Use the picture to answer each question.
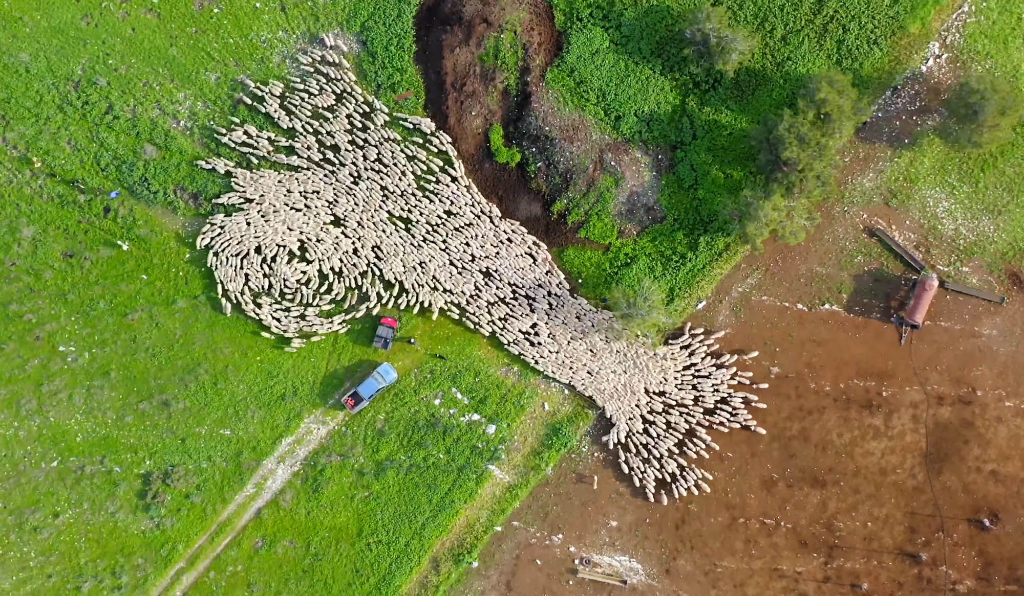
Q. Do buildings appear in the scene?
No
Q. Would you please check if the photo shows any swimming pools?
No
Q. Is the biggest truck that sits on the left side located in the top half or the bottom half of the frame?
bottom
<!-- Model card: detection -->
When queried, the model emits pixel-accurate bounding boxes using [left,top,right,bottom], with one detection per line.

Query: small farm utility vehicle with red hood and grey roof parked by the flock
[375,317,400,351]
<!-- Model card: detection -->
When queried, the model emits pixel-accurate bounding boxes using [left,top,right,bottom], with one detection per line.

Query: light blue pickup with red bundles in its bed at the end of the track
[340,362,401,417]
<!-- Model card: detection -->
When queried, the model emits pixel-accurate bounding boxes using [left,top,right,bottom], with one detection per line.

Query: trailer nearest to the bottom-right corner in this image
[891,269,939,350]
